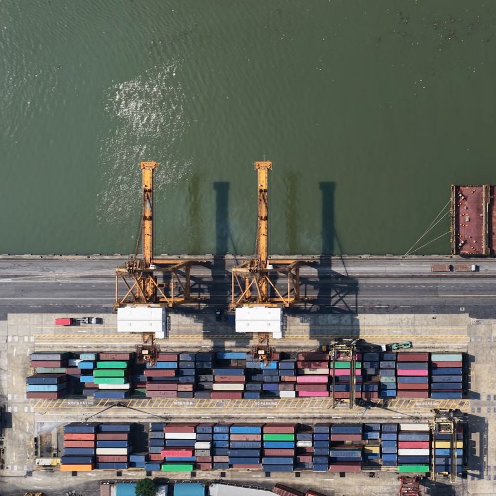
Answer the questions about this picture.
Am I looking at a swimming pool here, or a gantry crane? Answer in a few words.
gantry crane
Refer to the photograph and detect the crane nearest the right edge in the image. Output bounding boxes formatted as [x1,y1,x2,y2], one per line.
[427,404,461,482]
